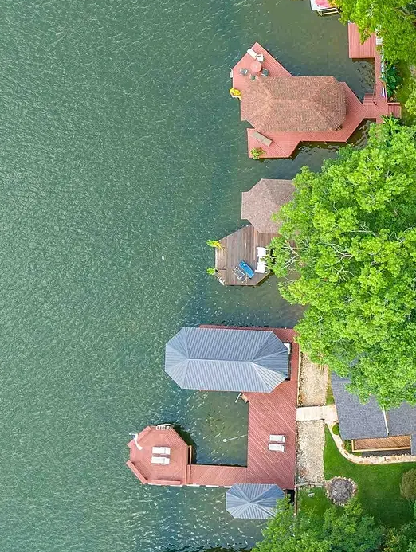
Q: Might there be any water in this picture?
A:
Yes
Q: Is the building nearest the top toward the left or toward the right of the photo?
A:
right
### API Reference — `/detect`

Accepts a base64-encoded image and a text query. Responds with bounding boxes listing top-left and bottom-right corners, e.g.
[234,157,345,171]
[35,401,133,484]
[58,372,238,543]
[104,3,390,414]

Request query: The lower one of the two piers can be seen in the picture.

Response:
[123,425,250,487]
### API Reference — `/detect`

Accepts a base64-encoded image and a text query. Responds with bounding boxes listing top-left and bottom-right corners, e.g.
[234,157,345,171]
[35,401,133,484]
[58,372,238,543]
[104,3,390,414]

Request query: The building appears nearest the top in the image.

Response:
[232,42,369,160]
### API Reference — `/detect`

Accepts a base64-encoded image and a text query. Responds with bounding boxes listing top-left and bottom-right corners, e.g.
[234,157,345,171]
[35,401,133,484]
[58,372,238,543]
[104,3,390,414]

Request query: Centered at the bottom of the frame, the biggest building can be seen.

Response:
[165,324,300,489]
